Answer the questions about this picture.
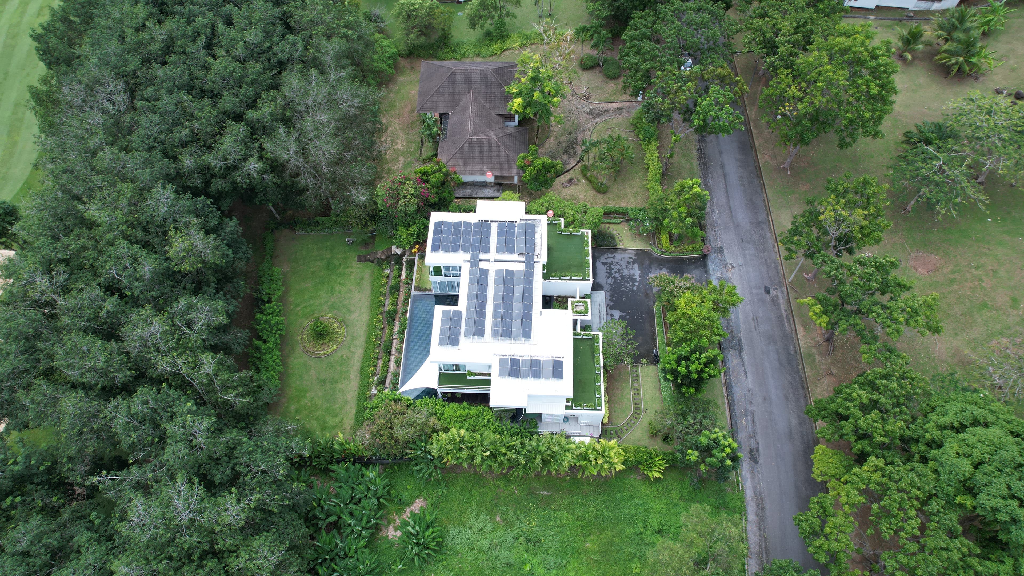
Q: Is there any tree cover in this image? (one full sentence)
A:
Yes, there's tree cover in this view.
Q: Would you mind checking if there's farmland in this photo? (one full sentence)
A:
No, there's no farmland in this view.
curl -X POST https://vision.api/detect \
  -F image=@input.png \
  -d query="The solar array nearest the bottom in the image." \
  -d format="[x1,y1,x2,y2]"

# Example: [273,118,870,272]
[499,358,563,380]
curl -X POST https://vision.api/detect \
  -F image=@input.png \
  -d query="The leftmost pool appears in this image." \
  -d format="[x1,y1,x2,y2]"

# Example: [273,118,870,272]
[398,292,460,409]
